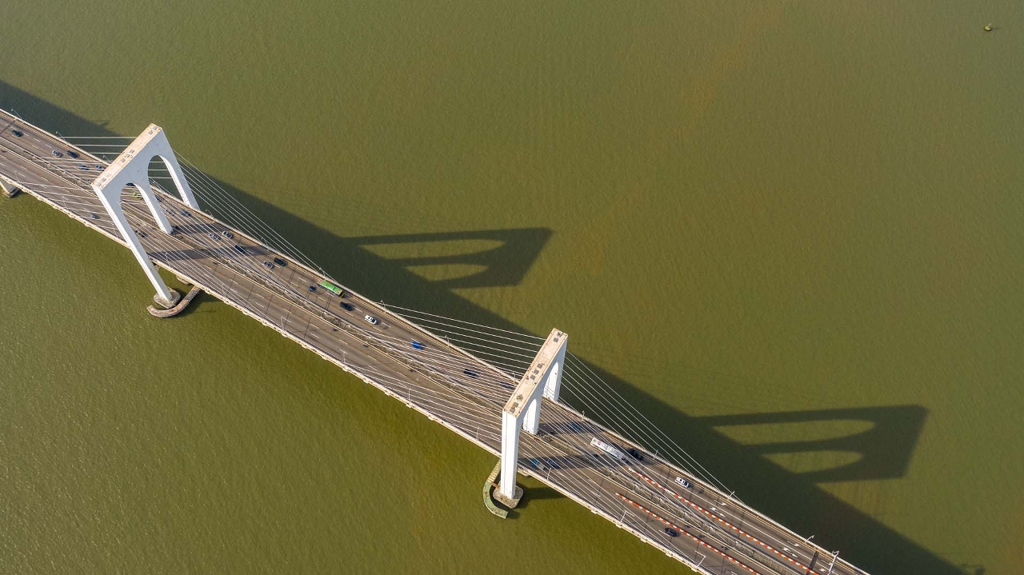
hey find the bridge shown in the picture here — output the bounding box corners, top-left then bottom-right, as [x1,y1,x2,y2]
[0,107,872,575]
